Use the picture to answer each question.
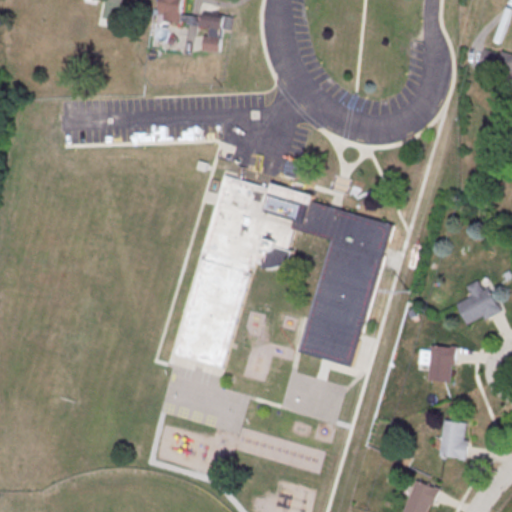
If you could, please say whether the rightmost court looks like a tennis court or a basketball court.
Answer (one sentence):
Looking closely, the rightmost court is a basketball court.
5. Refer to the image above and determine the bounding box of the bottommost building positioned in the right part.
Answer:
[404,481,439,512]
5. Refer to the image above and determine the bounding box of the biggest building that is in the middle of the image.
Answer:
[173,168,394,368]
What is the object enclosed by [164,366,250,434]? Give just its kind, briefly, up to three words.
sports court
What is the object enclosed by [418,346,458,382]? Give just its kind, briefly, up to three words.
house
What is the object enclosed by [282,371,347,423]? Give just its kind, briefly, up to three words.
basketball court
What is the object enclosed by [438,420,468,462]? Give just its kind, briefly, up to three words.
house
